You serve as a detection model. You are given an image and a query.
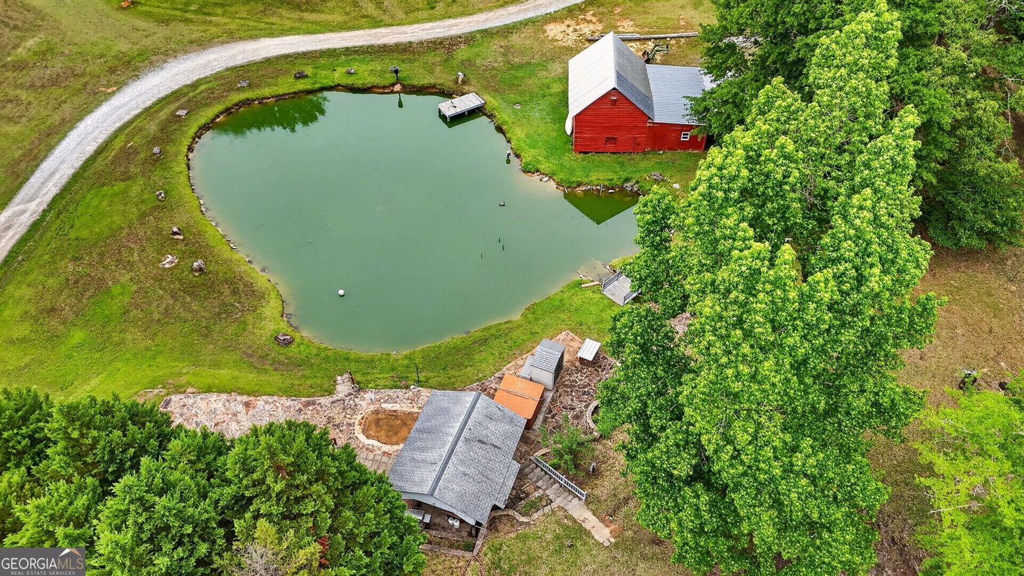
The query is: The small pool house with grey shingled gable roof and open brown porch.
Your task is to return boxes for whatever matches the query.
[381,391,528,549]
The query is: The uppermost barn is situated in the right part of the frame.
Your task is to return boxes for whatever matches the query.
[570,28,717,155]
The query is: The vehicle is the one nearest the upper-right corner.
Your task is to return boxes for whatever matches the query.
[637,39,674,60]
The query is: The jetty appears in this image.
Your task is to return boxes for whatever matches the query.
[438,92,485,124]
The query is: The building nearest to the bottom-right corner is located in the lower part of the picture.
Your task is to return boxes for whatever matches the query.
[577,338,601,370]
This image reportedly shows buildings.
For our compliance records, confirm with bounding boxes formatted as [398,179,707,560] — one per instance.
[529,341,565,388]
[570,28,717,155]
[577,338,601,370]
[381,391,528,549]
